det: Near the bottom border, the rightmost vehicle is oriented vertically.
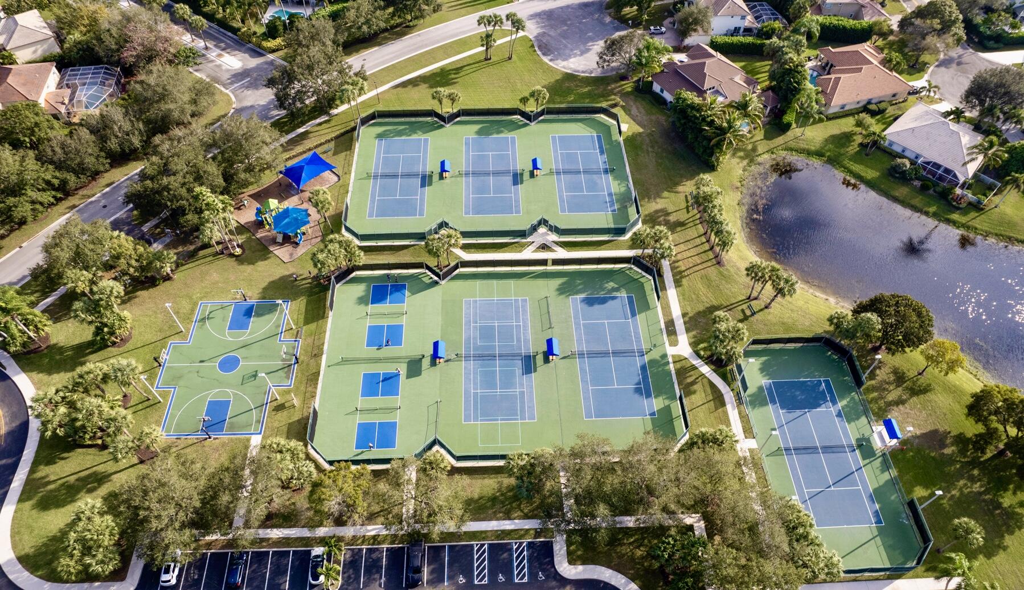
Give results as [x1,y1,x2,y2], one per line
[405,539,424,586]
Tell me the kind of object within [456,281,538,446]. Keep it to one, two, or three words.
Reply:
tennis court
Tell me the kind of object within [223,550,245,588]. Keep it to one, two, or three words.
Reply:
car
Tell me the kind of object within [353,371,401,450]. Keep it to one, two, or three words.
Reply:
sports court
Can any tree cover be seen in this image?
Yes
